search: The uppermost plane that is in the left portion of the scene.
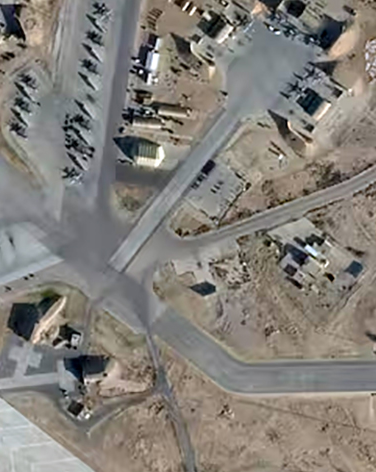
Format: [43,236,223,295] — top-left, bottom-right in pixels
[97,6,111,21]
